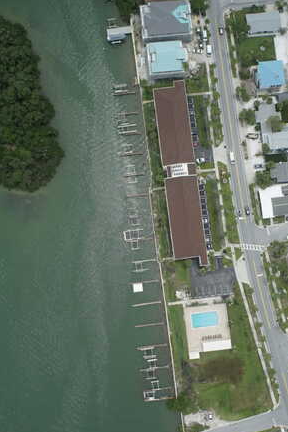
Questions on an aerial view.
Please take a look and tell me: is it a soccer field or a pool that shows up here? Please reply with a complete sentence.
The one in the frame is a pool.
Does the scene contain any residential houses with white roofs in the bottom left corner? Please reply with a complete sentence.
No, I see no residential house with a white roof in the bottom left corner.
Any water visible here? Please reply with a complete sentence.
Yes, water can be seen from above here.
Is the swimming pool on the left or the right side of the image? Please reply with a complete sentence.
The swimming pool appears in the right half of the scene.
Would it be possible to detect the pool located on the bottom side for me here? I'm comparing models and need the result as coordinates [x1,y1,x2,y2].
[185,302,230,360]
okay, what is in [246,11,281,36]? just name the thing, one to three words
house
